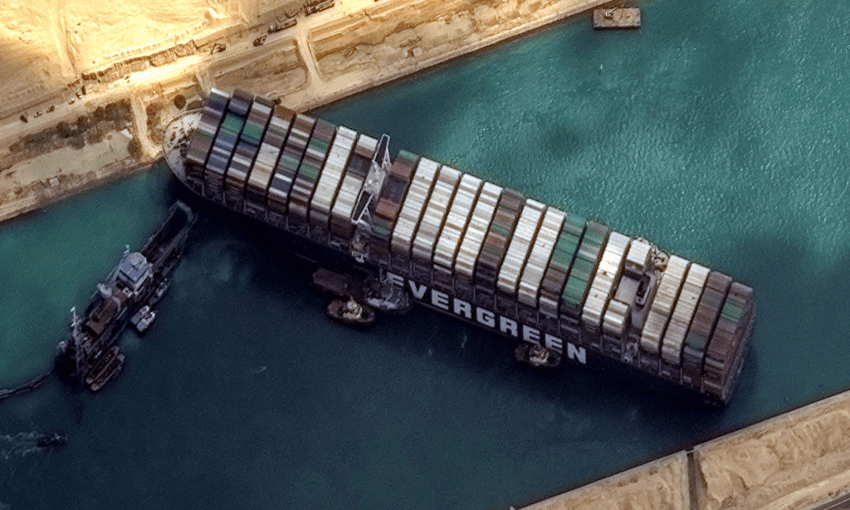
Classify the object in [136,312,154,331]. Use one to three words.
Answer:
boat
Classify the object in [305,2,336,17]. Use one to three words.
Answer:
vehicle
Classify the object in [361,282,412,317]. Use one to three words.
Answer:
boat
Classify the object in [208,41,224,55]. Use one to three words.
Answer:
work vehicle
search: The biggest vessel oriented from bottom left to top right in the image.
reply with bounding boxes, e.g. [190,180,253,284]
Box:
[63,201,193,377]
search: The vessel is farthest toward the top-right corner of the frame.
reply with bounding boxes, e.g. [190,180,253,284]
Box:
[594,9,640,29]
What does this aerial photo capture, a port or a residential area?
port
